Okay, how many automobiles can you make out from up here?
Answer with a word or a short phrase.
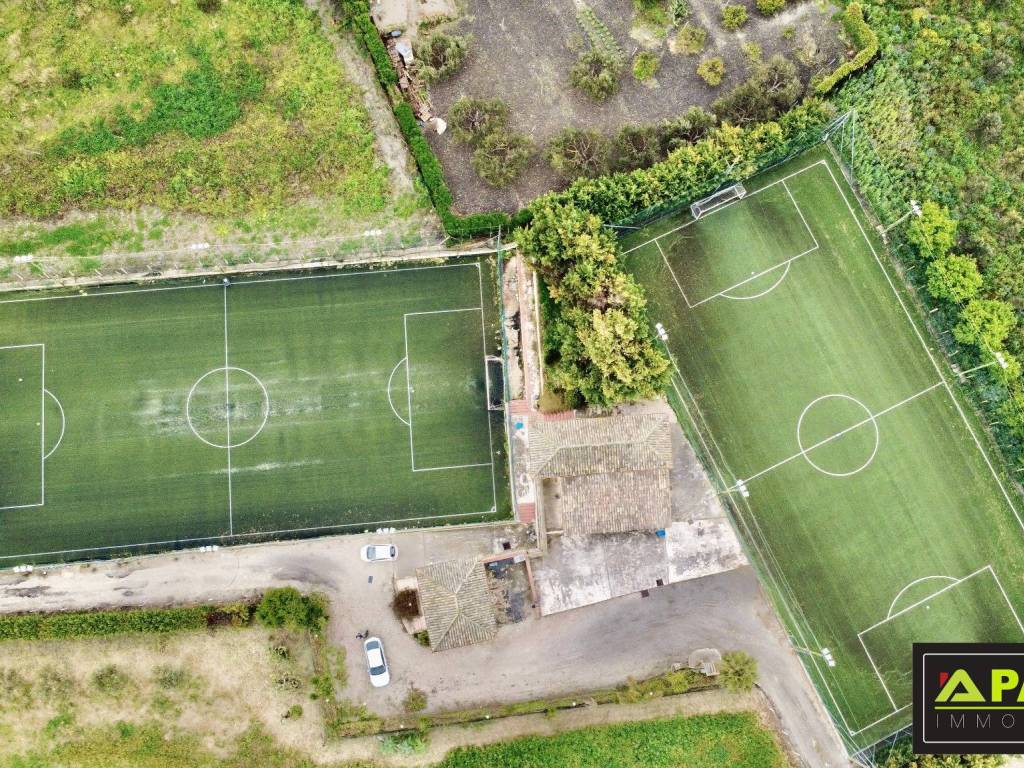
2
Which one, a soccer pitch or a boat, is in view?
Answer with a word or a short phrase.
soccer pitch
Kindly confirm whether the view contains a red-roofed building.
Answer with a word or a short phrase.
No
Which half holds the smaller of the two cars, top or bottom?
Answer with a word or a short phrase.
bottom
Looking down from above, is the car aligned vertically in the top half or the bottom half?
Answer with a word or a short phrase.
bottom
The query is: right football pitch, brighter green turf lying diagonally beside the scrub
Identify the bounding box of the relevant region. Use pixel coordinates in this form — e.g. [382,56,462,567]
[599,143,1024,753]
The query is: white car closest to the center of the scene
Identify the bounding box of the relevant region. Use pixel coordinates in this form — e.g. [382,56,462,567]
[361,542,398,563]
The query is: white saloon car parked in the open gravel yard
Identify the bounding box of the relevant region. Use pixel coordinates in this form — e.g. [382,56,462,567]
[363,635,391,689]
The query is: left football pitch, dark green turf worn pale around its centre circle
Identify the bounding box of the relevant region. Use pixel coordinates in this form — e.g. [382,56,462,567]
[0,255,516,568]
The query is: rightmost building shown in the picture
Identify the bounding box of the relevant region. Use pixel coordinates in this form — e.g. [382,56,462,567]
[528,413,673,536]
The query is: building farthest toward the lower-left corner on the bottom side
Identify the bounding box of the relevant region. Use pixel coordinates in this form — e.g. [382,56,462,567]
[415,555,499,653]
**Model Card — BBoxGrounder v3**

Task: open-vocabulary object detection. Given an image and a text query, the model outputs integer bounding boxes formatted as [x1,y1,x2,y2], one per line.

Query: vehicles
[361,542,398,563]
[363,635,391,689]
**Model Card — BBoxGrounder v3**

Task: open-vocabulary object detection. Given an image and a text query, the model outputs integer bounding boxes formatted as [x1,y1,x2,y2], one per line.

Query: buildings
[415,555,499,653]
[528,413,673,536]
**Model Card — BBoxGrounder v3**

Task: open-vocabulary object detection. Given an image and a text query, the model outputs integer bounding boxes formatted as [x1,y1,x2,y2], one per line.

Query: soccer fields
[599,143,1024,753]
[0,255,516,568]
